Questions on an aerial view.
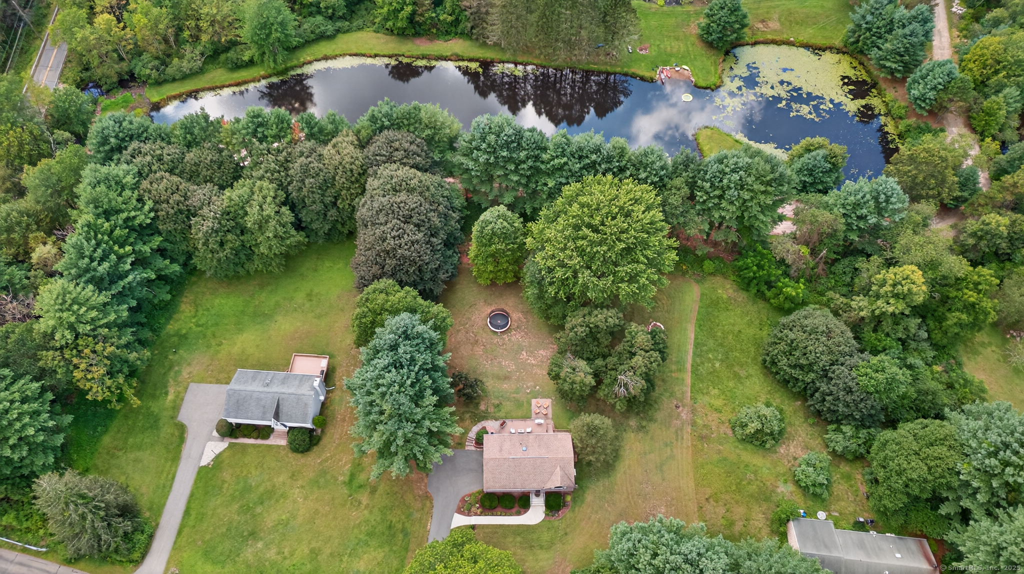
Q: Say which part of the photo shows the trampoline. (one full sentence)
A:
The trampoline is in the center part of the image.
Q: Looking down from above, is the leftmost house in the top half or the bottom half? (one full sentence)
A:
The leftmost house sits in the bottom half of the picture.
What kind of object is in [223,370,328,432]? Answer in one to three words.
house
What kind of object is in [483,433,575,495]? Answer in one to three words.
house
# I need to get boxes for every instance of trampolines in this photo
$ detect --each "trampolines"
[488,307,510,336]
